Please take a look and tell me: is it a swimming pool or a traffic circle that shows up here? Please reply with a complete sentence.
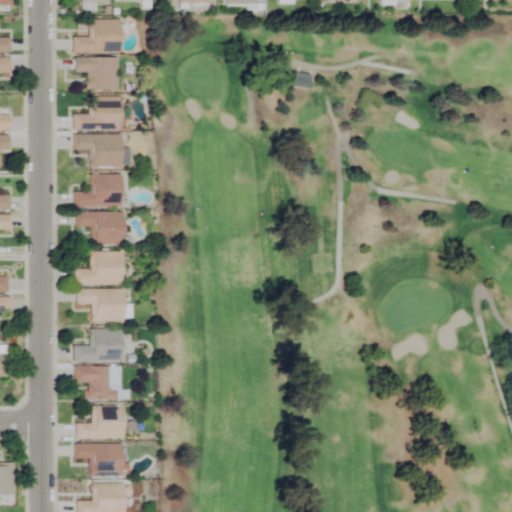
The one in the frame is a swimming pool.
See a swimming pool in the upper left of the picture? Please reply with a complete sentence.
Yes, the scene does show a swimming pool in the upper left of the picture.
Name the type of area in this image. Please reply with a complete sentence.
This image shows a golf course.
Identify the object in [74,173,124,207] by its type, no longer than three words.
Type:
house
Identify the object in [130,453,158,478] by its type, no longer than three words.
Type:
swimming pool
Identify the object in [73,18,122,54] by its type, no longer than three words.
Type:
house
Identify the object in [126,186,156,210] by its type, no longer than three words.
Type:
swimming pool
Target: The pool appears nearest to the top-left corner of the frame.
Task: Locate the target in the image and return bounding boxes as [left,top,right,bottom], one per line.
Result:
[122,16,142,54]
